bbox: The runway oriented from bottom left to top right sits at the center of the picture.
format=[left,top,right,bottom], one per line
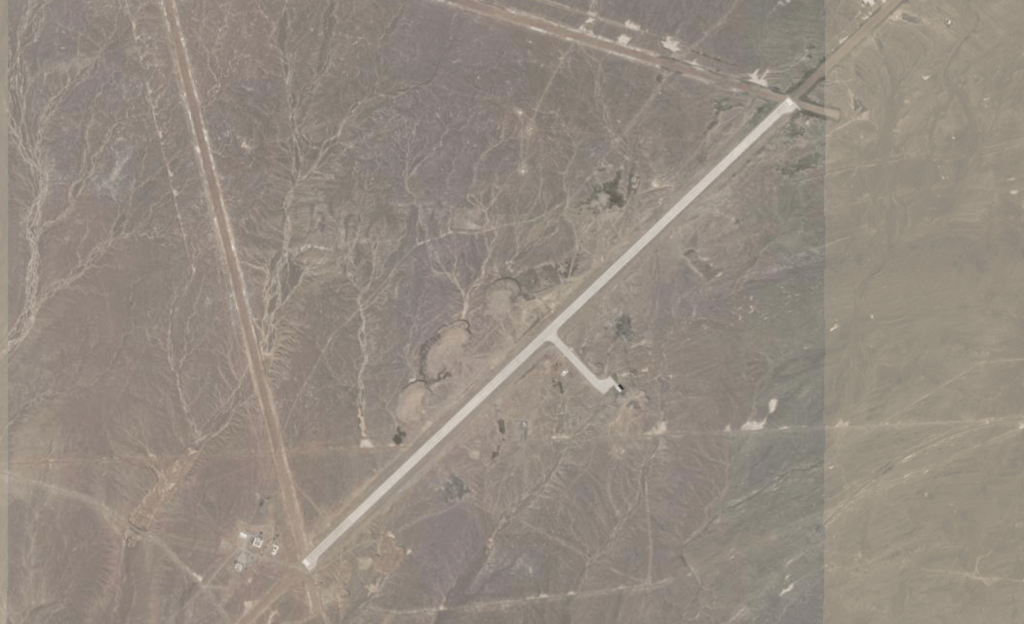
[303,99,801,570]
